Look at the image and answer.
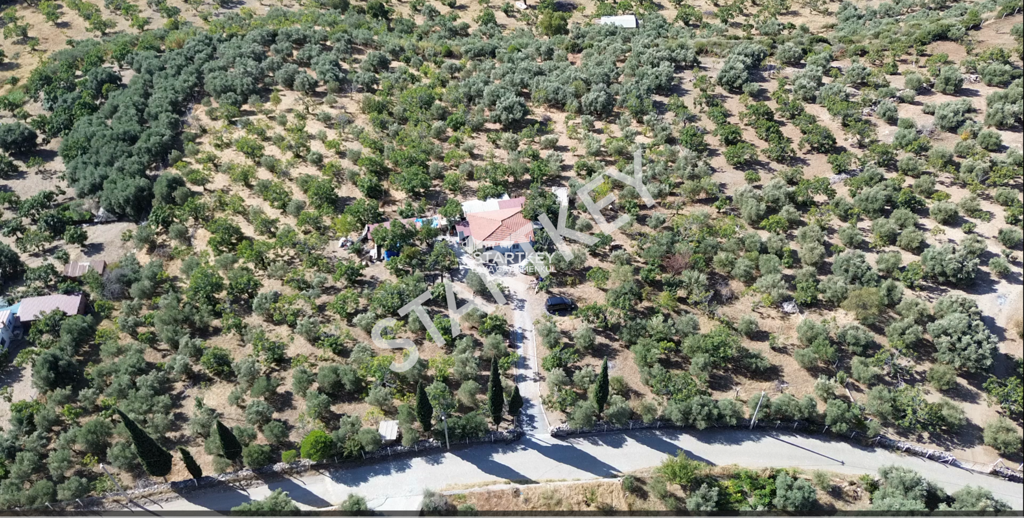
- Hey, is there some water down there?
No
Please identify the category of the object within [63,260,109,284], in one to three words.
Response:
building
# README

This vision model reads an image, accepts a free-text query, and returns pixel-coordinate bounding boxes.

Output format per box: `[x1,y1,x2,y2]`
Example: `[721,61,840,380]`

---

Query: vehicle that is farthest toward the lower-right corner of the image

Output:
[544,298,575,316]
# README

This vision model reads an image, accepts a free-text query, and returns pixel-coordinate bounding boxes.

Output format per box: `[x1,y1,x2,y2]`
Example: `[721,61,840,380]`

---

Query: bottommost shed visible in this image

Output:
[378,420,401,448]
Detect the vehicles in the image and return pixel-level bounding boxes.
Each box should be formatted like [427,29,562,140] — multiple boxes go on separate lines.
[544,298,575,316]
[510,258,536,276]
